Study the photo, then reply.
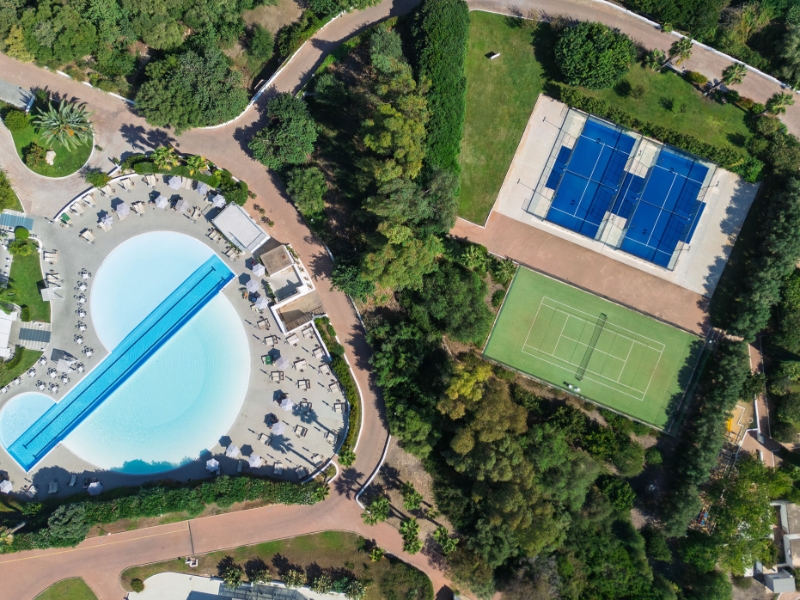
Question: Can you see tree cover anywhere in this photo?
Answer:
Yes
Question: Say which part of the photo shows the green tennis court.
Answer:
right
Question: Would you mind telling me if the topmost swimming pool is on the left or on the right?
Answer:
left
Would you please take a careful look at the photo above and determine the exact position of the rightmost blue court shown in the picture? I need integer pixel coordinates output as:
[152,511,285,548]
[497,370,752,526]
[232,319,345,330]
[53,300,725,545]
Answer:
[620,141,723,269]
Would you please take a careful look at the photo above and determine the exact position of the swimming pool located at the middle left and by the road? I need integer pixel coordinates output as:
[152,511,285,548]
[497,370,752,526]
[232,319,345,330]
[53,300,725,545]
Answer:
[0,230,252,476]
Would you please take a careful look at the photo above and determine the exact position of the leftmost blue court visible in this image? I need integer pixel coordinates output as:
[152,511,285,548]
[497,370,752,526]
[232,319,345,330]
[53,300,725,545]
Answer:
[545,111,646,240]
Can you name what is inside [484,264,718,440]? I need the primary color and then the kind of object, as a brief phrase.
green tennis court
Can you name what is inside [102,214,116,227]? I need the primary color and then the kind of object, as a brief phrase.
white umbrella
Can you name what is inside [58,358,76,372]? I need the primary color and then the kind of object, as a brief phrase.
white umbrella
